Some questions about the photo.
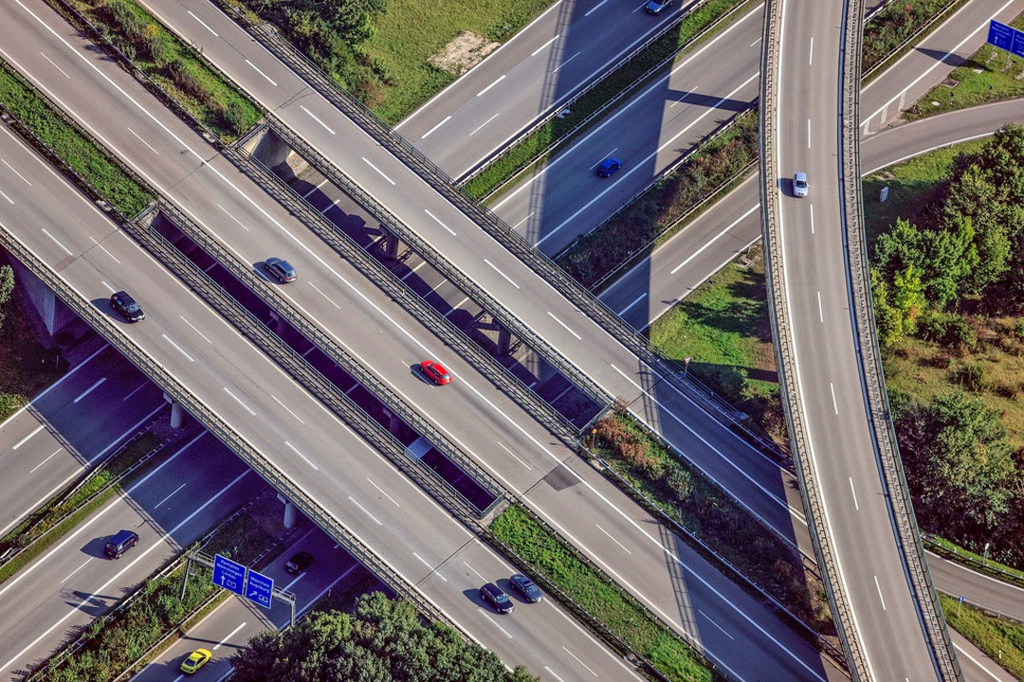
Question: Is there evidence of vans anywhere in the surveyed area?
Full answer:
Yes, the picture does show a van.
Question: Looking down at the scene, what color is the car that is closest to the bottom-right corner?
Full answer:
The car that is closest to the bottom-right corner is blue.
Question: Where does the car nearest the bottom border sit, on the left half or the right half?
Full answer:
The car nearest the bottom border appears in the left half of the scene.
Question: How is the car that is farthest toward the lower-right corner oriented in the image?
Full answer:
The car that is farthest toward the lower-right corner is oriented at an angle.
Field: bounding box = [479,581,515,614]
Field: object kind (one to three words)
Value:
car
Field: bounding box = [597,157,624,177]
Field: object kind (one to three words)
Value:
car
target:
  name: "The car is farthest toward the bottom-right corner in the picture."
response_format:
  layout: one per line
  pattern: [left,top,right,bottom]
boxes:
[509,576,545,607]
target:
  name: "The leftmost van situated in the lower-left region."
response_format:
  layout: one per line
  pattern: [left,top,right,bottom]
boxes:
[107,527,144,558]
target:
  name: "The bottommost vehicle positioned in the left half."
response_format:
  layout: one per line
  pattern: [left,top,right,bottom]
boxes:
[175,645,208,670]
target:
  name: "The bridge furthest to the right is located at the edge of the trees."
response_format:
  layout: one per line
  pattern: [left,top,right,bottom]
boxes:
[755,0,966,682]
